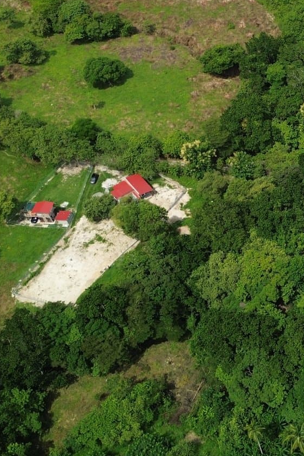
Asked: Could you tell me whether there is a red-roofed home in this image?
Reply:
Yes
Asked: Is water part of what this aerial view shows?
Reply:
No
